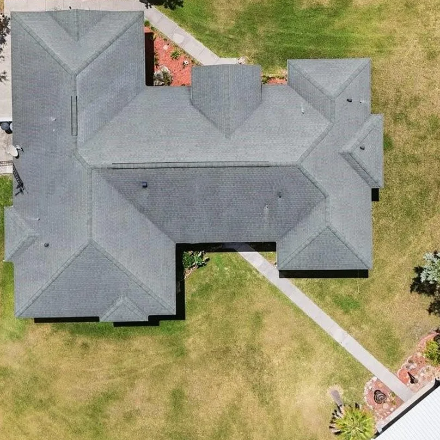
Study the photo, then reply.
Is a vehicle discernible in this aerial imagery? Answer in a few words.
No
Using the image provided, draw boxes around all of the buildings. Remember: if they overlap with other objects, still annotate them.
[371,378,440,440]
[4,6,385,323]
